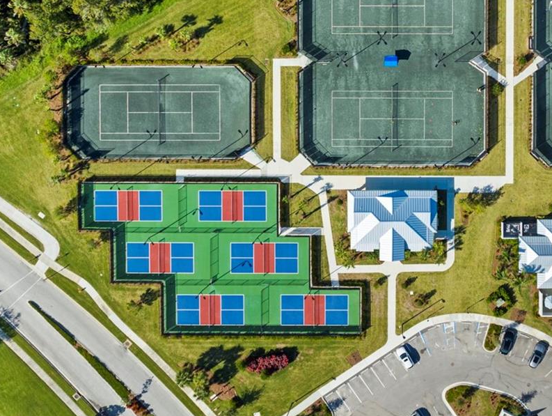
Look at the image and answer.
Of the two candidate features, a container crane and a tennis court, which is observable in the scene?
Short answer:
tennis court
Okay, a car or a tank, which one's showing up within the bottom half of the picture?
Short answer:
car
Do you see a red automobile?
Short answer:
No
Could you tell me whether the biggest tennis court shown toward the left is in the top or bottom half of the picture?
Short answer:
top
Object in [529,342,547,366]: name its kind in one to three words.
car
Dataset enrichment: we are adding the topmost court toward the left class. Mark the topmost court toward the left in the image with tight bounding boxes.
[67,66,249,158]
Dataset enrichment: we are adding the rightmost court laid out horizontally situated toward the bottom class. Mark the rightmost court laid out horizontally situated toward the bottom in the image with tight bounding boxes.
[265,283,362,331]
